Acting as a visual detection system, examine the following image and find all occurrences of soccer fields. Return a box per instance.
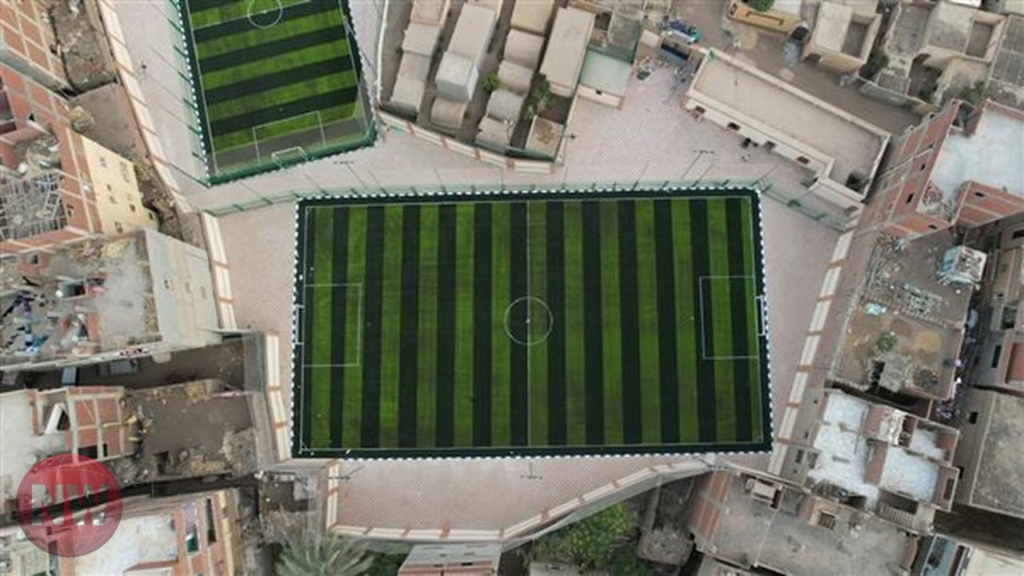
[179,0,381,189]
[291,188,775,462]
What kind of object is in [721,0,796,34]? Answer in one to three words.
house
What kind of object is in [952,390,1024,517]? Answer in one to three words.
house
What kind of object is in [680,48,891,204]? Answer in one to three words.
building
